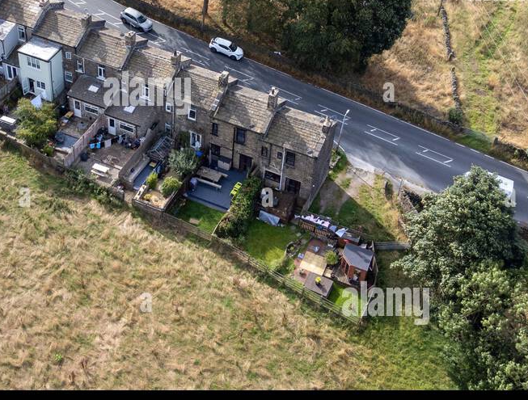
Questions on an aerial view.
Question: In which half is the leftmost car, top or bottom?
top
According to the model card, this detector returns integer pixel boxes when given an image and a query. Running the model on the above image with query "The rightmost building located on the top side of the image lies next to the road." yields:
[259,105,339,205]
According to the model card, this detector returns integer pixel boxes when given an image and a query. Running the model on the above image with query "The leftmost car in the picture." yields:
[122,7,155,33]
